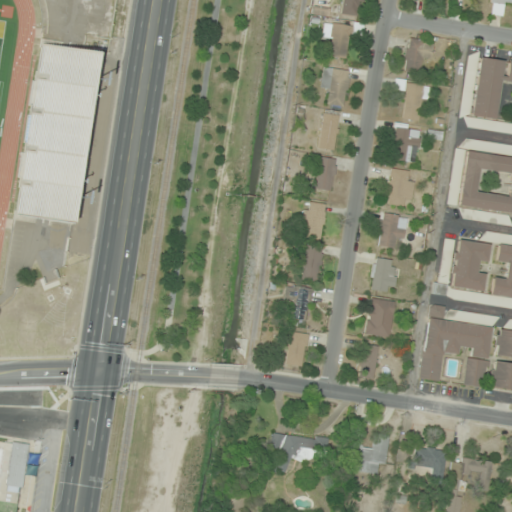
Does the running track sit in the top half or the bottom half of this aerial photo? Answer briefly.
top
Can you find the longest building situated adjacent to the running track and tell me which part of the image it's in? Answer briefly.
top left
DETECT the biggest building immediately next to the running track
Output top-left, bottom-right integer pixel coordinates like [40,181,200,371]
[15,44,104,227]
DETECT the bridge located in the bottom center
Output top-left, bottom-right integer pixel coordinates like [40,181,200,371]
[212,364,246,389]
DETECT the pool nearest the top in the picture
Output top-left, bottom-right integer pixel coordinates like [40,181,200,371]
[445,359,459,378]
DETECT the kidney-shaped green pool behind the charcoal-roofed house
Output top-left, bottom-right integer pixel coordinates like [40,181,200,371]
[294,491,314,509]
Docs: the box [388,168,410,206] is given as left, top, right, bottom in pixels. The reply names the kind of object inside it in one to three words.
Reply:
house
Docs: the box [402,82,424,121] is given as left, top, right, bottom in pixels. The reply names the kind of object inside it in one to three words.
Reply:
house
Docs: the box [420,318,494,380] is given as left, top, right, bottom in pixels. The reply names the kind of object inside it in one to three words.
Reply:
building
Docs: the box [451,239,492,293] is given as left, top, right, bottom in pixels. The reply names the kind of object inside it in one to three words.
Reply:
building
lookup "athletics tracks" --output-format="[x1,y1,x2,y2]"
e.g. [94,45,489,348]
[0,0,36,262]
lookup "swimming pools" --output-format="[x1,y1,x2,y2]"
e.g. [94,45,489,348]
[445,359,459,378]
[294,491,314,509]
